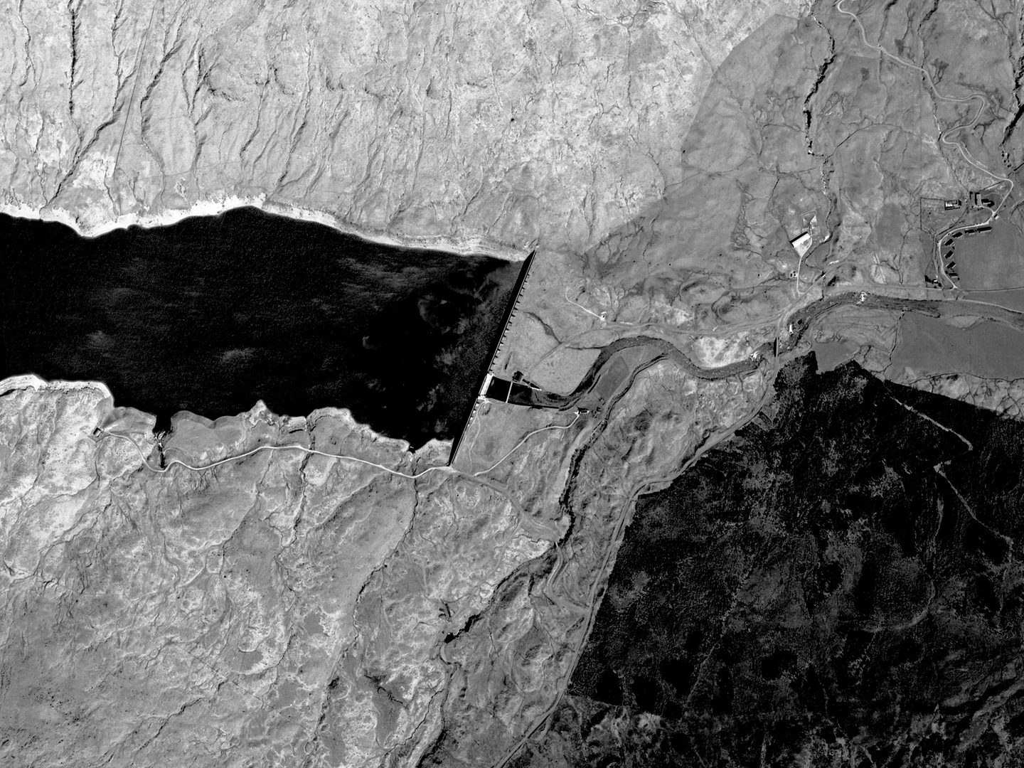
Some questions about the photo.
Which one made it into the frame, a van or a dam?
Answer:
dam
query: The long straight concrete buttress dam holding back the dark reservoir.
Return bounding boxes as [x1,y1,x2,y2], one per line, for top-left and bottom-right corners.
[450,250,536,466]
